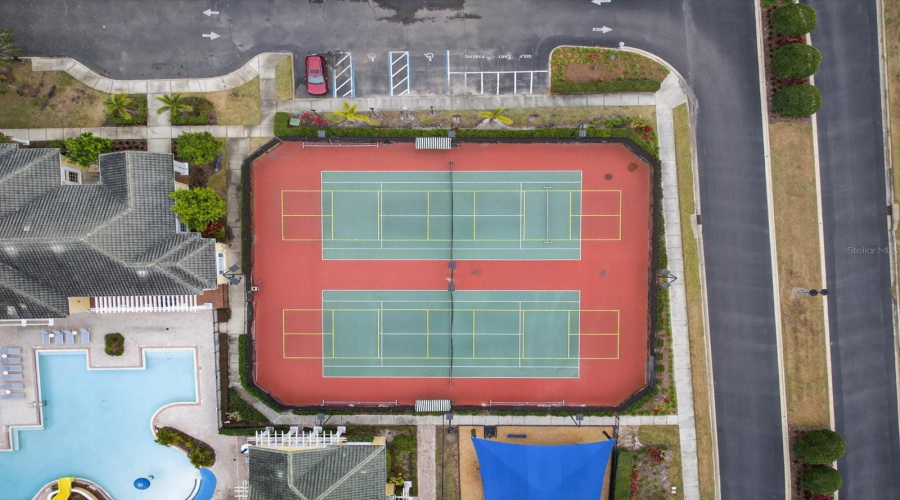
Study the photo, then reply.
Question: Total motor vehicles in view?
1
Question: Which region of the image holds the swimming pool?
bottom left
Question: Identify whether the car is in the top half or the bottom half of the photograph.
top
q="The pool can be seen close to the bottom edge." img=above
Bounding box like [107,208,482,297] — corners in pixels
[0,344,200,500]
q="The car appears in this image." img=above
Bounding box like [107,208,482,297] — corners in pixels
[306,56,330,97]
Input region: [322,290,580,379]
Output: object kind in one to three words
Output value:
tennis court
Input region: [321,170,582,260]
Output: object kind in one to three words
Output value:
tennis court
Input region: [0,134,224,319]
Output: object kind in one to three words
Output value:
building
